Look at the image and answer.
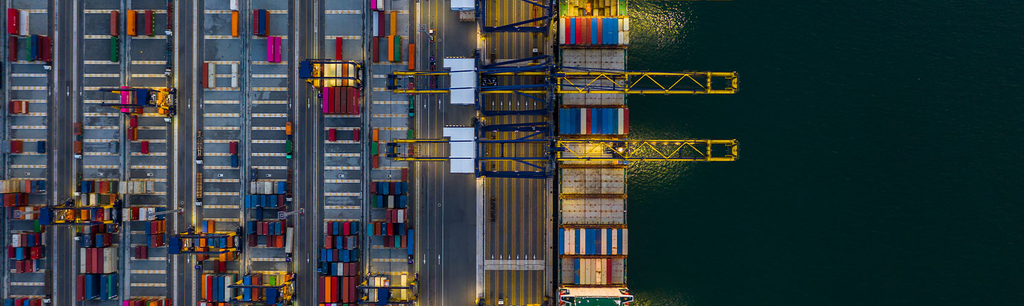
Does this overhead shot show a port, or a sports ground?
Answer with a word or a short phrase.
port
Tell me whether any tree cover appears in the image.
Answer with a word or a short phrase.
No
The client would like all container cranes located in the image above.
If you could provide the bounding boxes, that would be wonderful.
[36,198,123,226]
[355,272,420,306]
[387,0,739,42]
[387,51,739,122]
[387,120,739,181]
[163,225,242,255]
[95,87,175,116]
[296,60,364,90]
[225,272,298,305]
